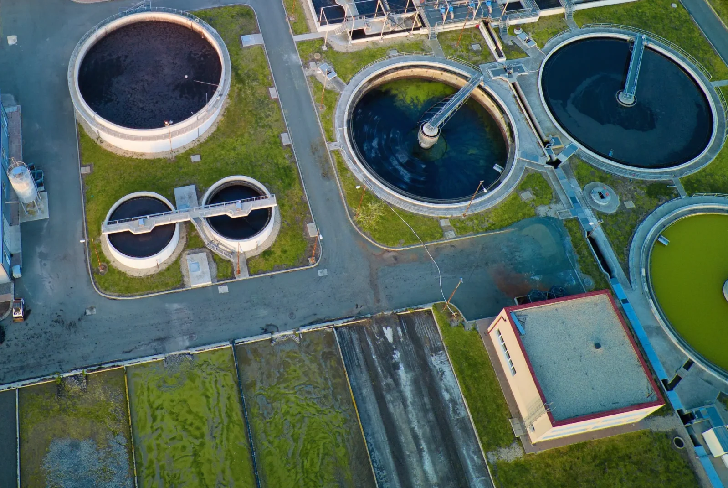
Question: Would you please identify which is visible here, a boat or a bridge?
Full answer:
It is a bridge that can be seen here.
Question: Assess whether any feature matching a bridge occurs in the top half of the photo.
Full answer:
Yes, a bridge shows up in the top half of the photo.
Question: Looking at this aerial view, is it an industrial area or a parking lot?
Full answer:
What you see here is an industrial area.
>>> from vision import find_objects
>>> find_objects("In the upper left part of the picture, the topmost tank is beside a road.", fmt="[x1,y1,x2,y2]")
[67,0,234,153]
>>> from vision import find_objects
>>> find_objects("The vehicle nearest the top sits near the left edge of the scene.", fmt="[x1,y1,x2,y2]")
[8,293,27,326]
